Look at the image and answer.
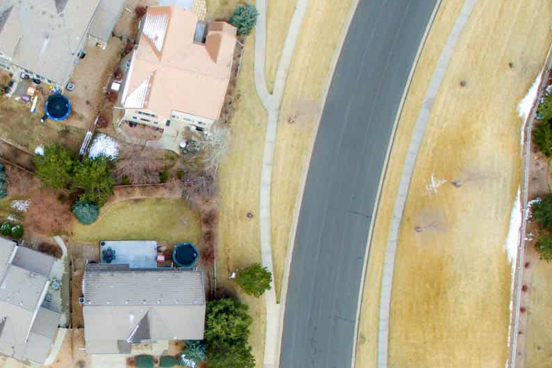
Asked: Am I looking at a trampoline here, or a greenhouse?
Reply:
trampoline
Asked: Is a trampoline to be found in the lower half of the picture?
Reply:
Yes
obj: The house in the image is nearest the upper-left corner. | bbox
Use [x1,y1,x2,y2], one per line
[0,0,124,94]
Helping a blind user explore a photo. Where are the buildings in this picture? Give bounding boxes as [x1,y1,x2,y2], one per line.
[83,263,206,356]
[124,2,238,127]
[0,0,124,94]
[0,236,63,366]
